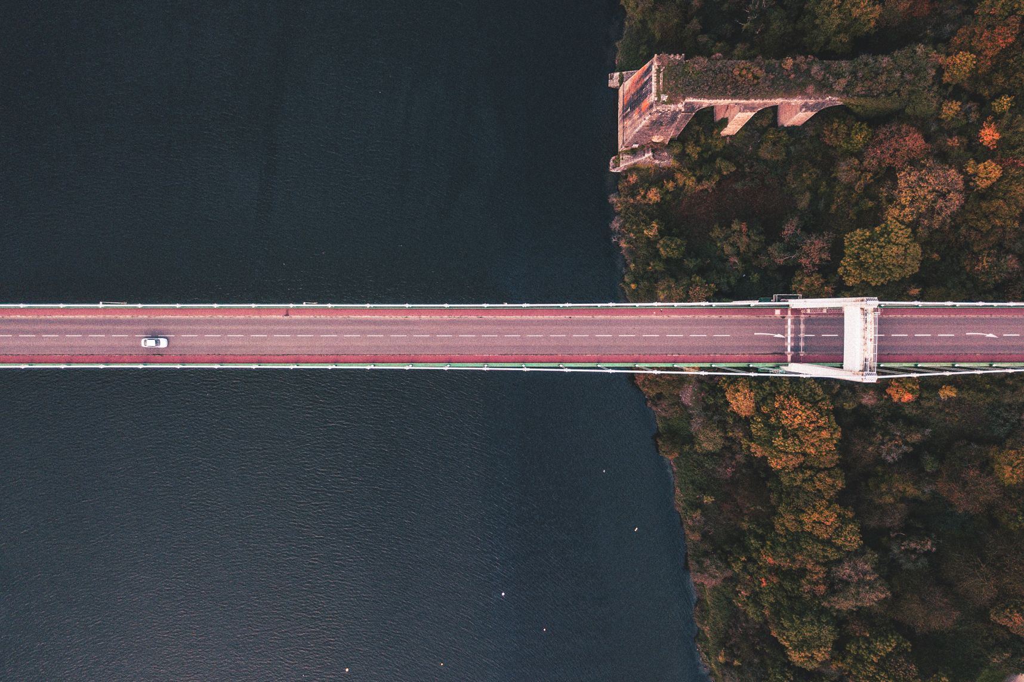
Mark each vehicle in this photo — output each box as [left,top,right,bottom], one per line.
[140,337,167,349]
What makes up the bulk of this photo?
water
